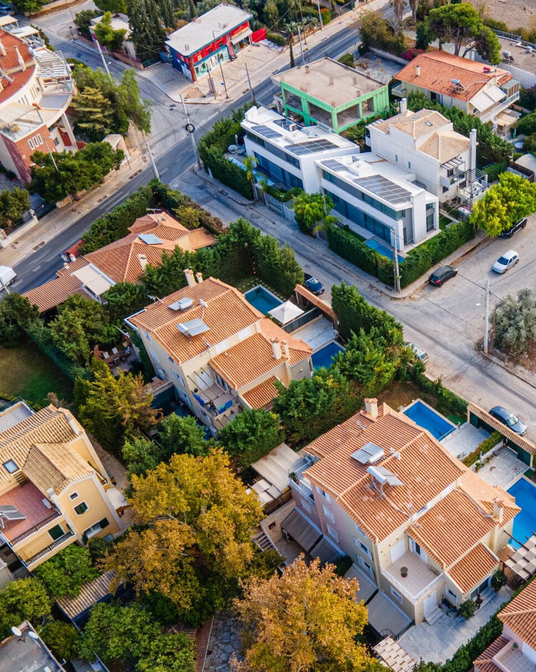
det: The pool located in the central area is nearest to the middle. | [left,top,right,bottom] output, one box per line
[242,281,289,313]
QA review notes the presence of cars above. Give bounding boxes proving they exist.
[2,4,14,14]
[490,248,523,274]
[498,213,531,239]
[299,271,330,299]
[406,339,436,366]
[484,399,532,438]
[427,265,459,287]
